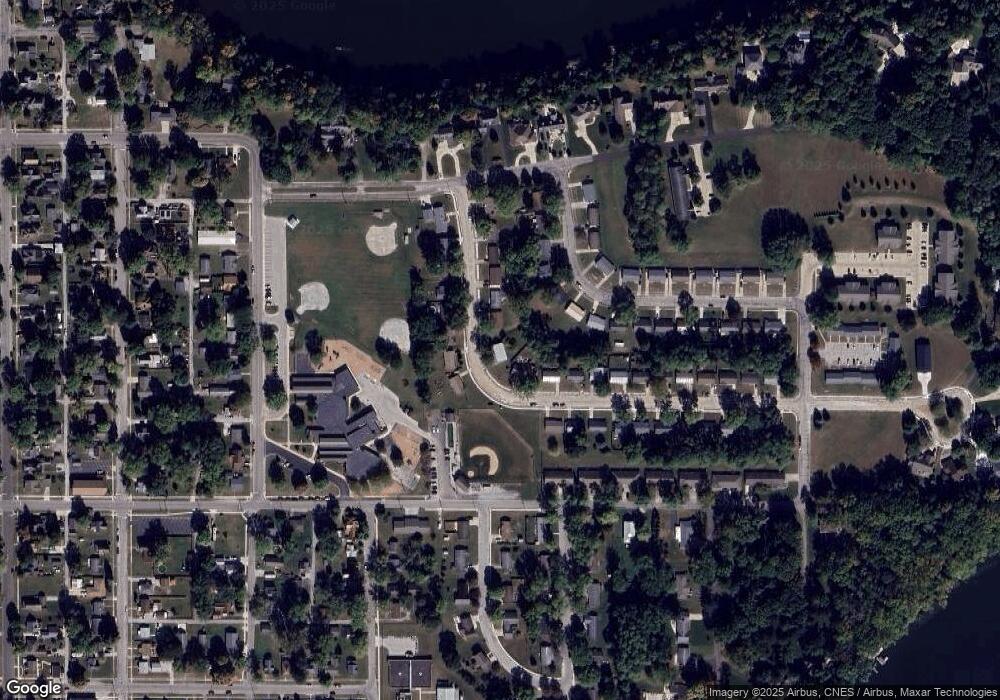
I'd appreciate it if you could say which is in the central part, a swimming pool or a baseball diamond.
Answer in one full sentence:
Looking in the central part, you will find a baseball diamond.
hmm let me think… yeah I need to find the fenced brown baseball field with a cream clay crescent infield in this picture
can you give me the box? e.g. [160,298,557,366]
[460,409,533,484]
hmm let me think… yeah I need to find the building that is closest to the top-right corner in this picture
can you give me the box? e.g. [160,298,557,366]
[952,56,976,73]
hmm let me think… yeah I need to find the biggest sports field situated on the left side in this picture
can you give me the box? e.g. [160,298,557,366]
[266,201,423,362]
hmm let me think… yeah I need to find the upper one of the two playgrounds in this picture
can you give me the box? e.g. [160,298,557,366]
[313,340,386,380]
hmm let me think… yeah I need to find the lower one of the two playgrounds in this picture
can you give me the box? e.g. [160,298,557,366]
[389,424,422,465]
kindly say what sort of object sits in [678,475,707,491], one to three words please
house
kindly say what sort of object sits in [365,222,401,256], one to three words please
baseball field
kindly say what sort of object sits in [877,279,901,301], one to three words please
building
